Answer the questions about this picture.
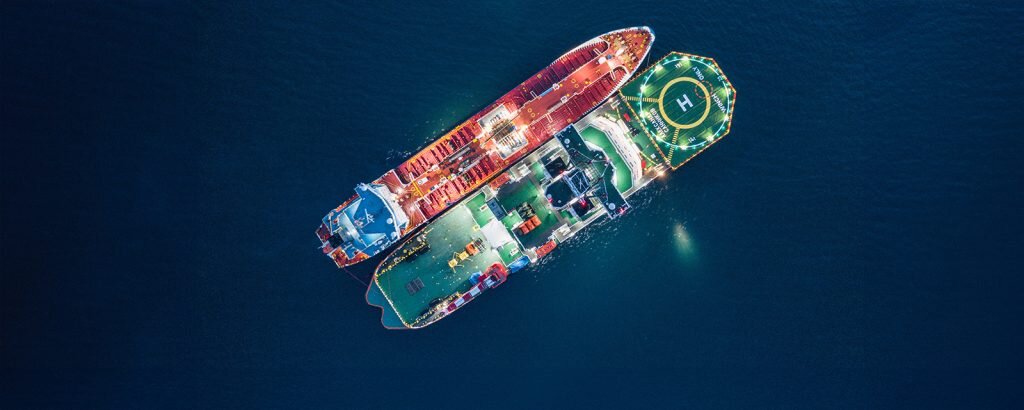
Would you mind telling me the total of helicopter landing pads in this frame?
one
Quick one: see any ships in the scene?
Yes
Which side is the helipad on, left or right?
right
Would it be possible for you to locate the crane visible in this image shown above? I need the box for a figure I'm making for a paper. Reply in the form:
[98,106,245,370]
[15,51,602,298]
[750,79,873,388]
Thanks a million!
[446,263,508,313]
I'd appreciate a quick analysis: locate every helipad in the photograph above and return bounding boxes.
[618,51,737,170]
